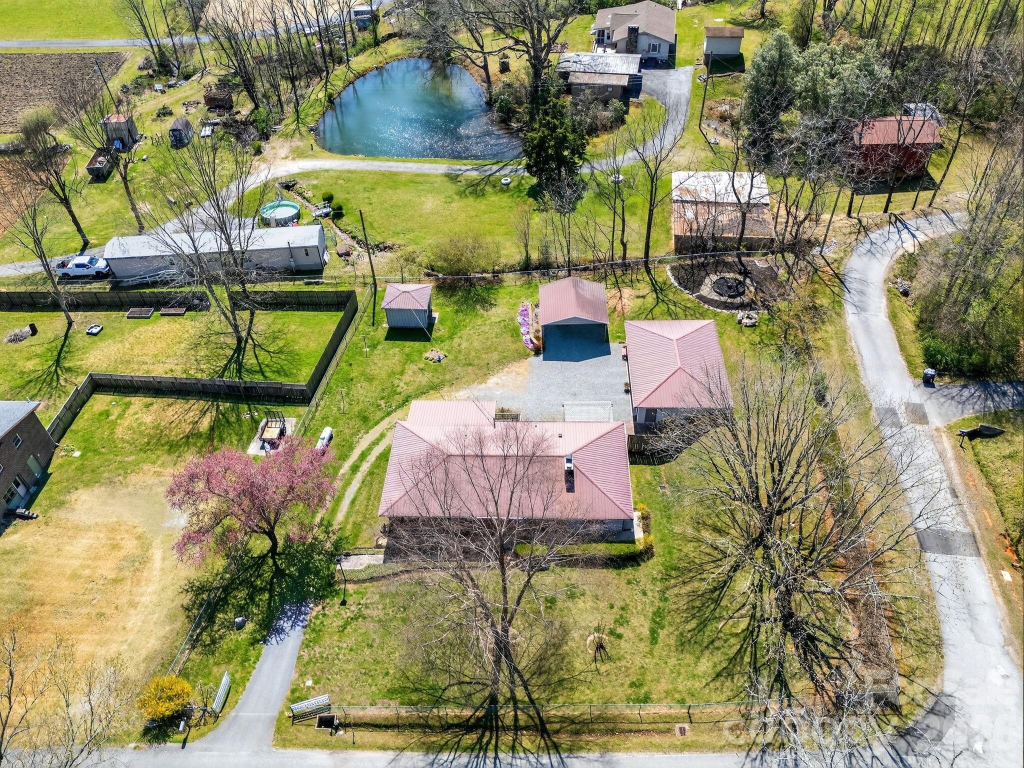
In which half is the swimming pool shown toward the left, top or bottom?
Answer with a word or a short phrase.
top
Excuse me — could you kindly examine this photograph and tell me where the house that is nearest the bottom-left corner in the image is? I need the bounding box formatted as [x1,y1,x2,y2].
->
[0,399,59,533]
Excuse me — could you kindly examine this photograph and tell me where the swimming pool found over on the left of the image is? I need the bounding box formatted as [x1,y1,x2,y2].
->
[259,194,303,226]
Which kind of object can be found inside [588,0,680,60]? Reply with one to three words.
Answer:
house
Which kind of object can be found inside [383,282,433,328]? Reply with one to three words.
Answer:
shed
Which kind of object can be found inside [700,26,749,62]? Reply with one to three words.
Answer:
shed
